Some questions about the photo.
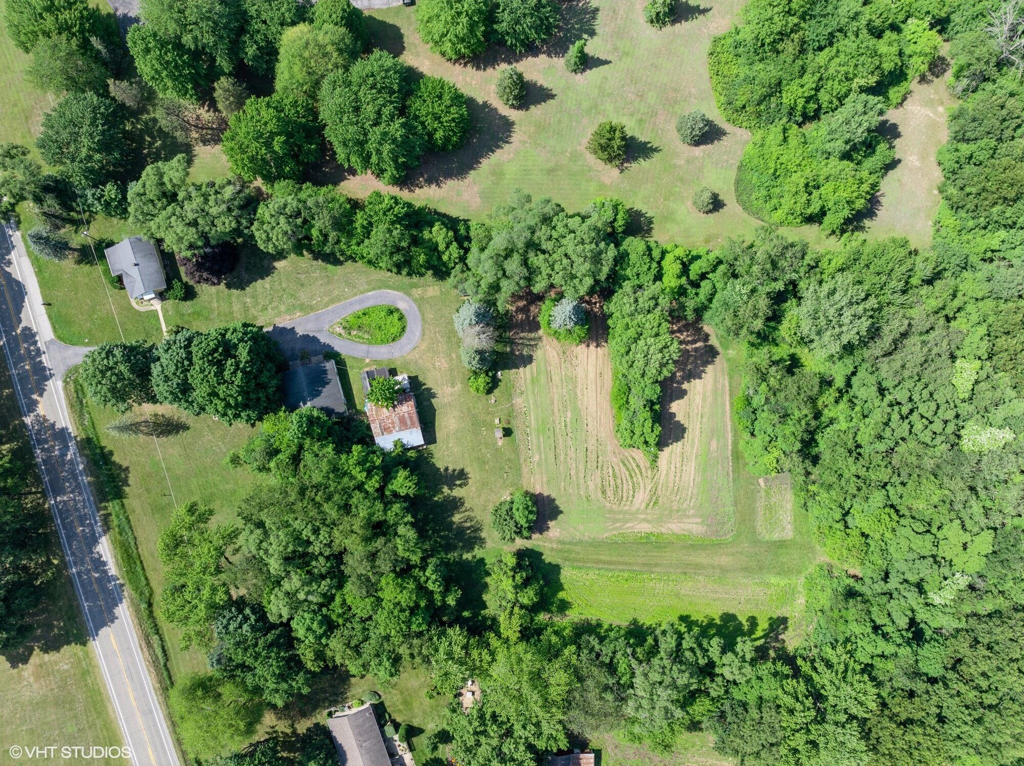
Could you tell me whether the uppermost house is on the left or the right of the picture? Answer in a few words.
left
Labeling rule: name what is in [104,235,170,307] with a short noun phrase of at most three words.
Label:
house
